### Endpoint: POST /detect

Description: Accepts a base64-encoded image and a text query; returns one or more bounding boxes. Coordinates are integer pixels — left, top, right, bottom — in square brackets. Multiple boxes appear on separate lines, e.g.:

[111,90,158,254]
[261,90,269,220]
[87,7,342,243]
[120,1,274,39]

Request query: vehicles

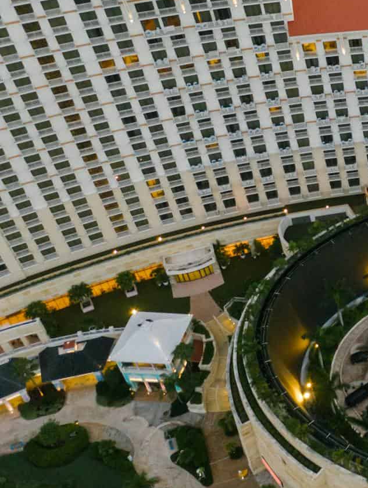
[347,348,368,363]
[343,383,368,407]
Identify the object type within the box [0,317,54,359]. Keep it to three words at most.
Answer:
house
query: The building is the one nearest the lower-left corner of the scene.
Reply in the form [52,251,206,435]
[0,359,42,418]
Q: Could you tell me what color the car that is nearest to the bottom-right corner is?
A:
black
